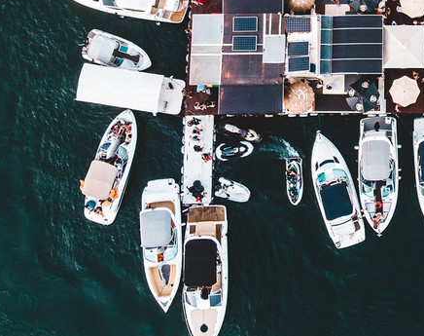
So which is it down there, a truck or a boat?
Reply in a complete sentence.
The one in the frame is a boat.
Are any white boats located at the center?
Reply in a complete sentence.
Yes, a white boat can be seen at the center.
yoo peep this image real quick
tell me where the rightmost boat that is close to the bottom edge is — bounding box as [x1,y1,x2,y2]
[182,203,231,336]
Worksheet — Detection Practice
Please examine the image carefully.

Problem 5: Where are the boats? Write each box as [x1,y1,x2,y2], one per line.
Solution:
[415,116,424,210]
[354,116,402,234]
[313,129,367,246]
[182,203,231,336]
[76,32,152,71]
[141,177,187,312]
[219,121,262,143]
[285,156,305,206]
[76,63,188,113]
[215,140,255,159]
[215,179,249,202]
[83,109,140,223]
[76,0,188,25]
